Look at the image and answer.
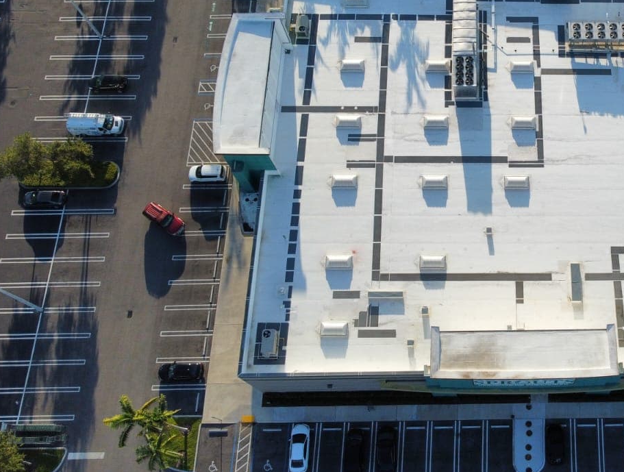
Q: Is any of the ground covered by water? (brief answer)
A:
No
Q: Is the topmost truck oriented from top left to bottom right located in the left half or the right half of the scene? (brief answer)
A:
left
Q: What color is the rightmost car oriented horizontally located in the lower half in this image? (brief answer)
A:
black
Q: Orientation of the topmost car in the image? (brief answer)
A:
from left to right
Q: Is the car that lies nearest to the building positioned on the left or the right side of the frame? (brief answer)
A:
left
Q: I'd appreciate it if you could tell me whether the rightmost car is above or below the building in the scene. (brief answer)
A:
below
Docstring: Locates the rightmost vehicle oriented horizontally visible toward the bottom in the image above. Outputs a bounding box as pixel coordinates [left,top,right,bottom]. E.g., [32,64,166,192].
[153,360,206,384]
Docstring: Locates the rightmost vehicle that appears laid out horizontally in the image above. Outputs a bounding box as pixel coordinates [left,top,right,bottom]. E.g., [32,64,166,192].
[186,162,228,182]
